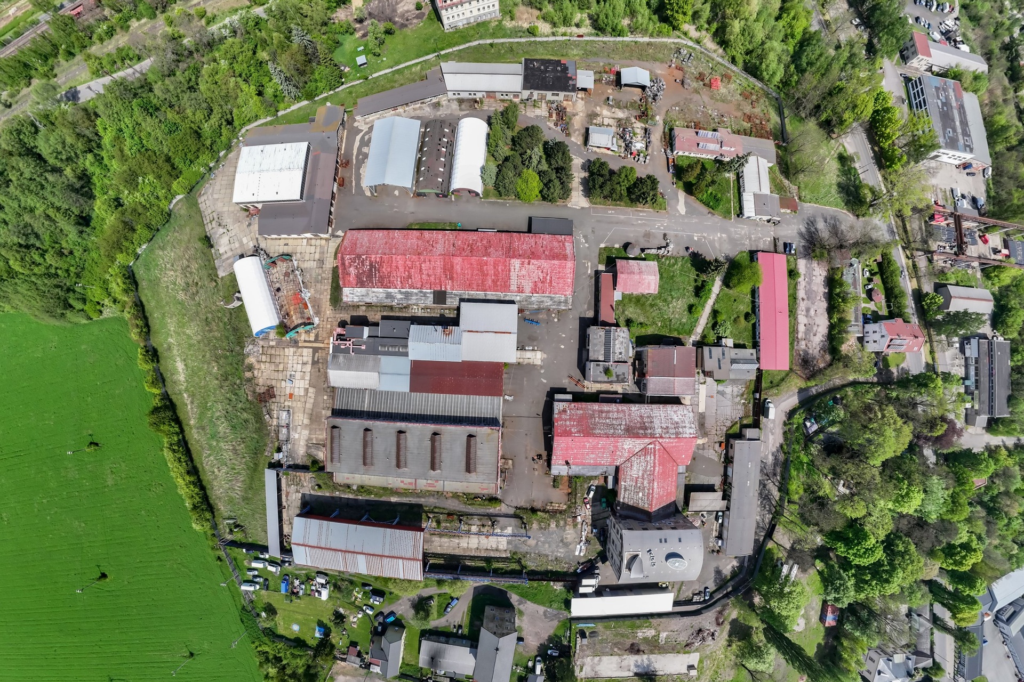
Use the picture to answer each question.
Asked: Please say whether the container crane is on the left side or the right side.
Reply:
right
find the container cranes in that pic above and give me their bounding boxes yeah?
[904,207,1024,271]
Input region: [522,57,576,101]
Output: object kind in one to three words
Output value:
house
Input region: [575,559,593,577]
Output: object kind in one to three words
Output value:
vehicle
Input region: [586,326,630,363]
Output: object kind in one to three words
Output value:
building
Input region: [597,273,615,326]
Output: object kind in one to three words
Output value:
shed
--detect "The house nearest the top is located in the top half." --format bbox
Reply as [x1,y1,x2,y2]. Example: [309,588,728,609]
[437,0,499,32]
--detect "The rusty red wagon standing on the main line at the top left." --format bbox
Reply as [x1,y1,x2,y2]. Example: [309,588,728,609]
[71,7,92,23]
